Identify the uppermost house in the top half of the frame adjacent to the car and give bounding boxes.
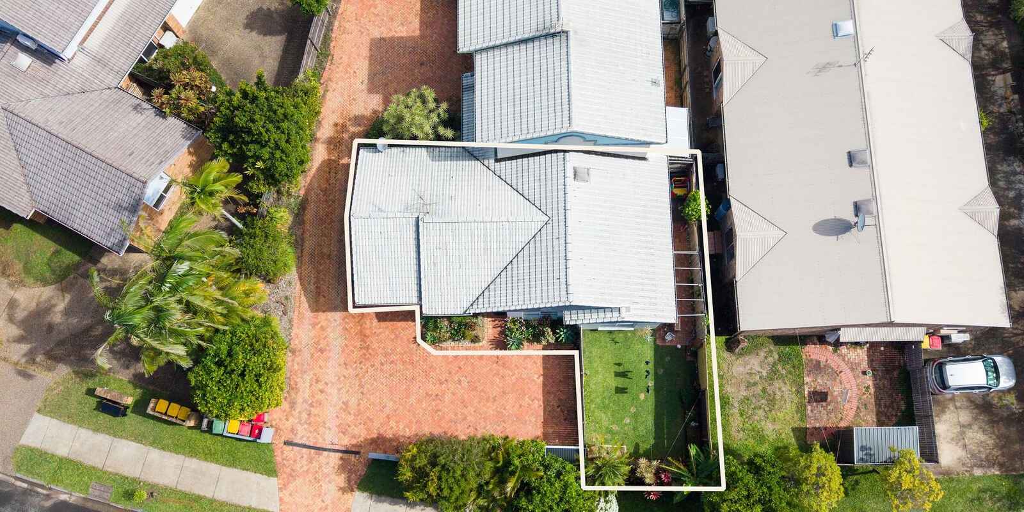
[708,0,1010,345]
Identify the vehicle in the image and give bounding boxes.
[920,352,1016,396]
